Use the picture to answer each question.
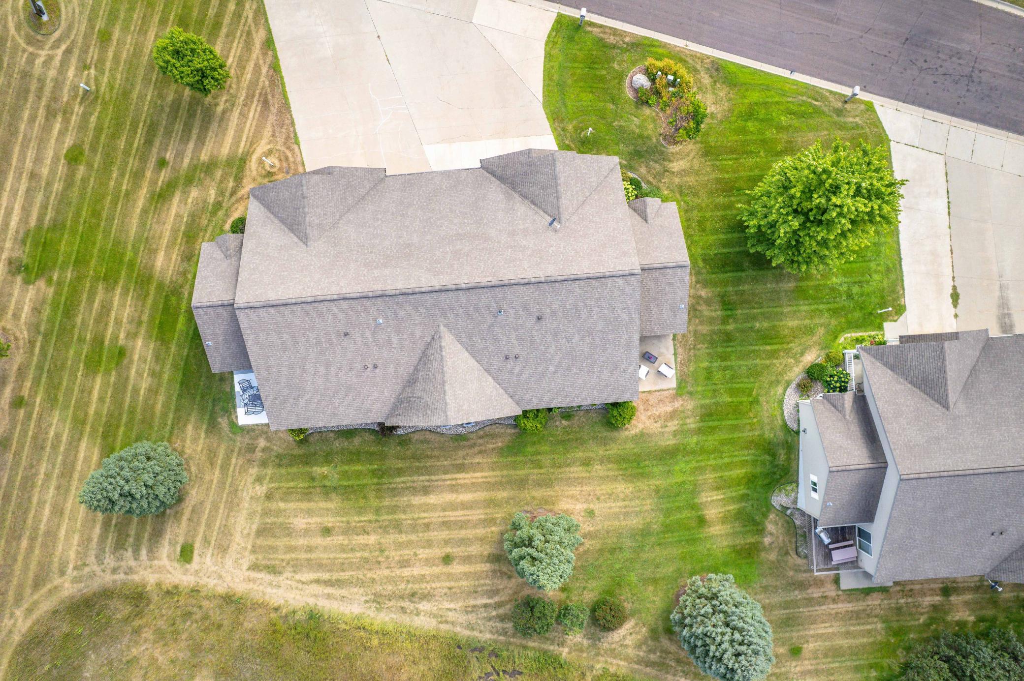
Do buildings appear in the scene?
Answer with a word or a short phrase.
Yes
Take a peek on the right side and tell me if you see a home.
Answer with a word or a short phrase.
Yes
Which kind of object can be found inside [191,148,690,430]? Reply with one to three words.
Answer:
house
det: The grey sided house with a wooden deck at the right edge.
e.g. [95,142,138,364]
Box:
[797,327,1024,588]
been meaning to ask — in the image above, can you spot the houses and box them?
[191,148,690,430]
[797,327,1024,588]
